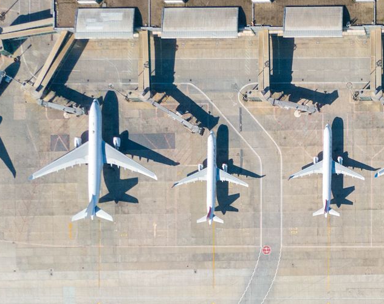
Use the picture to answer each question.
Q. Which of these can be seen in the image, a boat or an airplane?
airplane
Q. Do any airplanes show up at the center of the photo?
Yes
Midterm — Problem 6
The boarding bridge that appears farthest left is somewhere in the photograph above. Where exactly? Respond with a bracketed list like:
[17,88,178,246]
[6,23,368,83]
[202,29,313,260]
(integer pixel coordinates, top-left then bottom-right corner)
[36,100,88,118]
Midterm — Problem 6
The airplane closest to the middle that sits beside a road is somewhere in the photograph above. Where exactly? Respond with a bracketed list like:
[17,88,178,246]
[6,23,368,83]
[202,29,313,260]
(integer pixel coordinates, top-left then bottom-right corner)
[172,130,247,224]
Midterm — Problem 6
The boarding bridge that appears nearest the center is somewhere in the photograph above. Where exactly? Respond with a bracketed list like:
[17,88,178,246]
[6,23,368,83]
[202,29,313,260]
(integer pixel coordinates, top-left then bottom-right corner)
[149,99,206,135]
